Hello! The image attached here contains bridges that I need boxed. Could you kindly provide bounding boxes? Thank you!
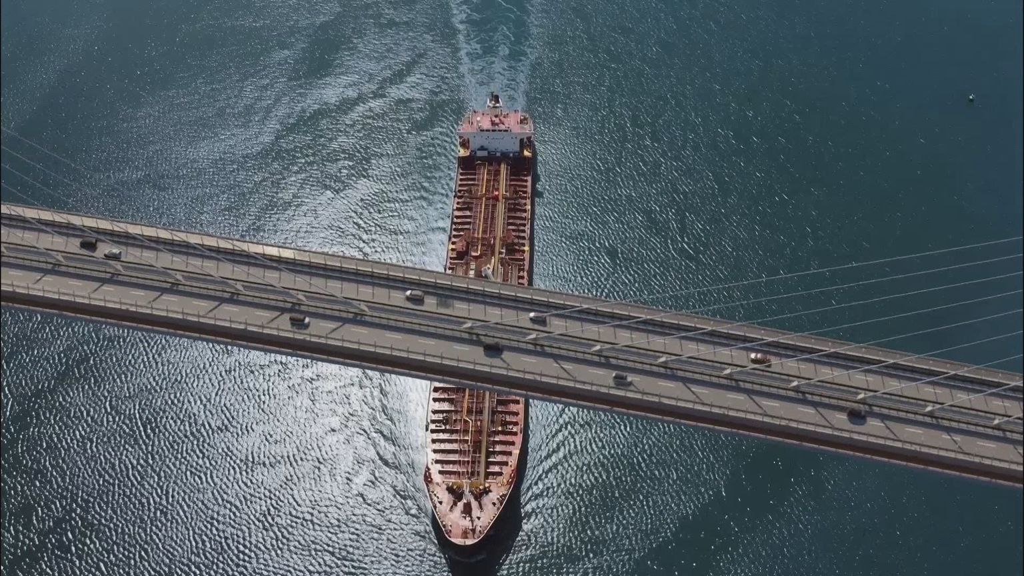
[0,127,1024,492]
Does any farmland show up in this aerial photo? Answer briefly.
No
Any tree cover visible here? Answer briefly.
No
